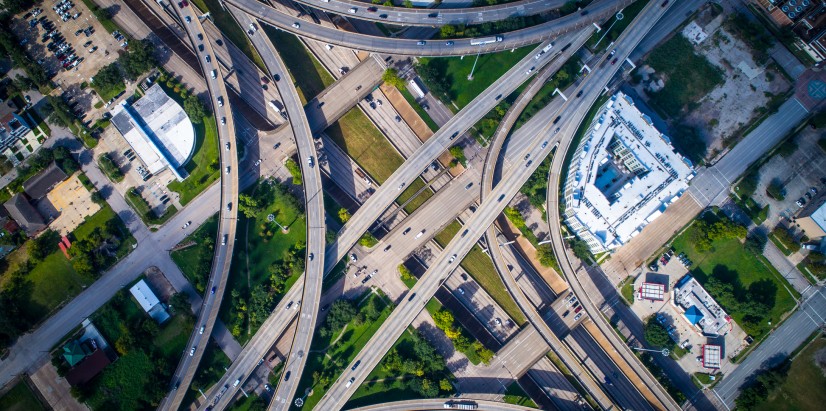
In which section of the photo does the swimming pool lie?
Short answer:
right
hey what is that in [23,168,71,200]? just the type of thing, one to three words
house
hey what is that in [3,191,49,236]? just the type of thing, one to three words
house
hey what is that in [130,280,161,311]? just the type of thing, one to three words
shed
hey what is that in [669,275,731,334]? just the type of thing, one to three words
building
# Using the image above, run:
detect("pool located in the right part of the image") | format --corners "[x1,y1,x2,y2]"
[595,165,620,193]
